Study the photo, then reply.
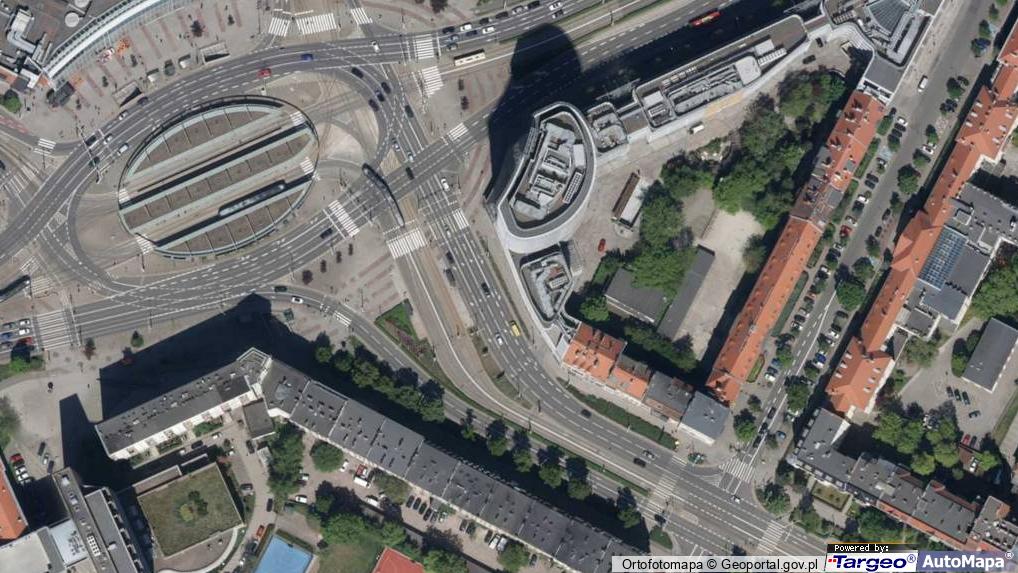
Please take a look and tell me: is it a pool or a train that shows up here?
train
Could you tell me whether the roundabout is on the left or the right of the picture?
left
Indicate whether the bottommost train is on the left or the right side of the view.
left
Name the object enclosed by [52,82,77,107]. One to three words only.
building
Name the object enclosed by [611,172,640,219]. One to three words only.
shed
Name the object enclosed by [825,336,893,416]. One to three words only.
house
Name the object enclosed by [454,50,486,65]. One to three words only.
vehicle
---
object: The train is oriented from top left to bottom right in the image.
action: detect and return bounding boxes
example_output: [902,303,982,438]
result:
[363,164,406,227]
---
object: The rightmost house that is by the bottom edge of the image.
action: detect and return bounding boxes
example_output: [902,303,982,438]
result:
[963,497,1018,569]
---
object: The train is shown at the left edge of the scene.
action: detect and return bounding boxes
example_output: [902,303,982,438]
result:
[0,277,31,300]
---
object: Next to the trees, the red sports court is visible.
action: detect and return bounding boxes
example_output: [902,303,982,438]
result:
[375,547,425,573]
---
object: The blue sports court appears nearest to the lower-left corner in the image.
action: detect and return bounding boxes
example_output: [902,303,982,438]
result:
[256,535,313,573]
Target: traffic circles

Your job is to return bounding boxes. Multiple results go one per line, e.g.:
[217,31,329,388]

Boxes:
[0,32,437,358]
